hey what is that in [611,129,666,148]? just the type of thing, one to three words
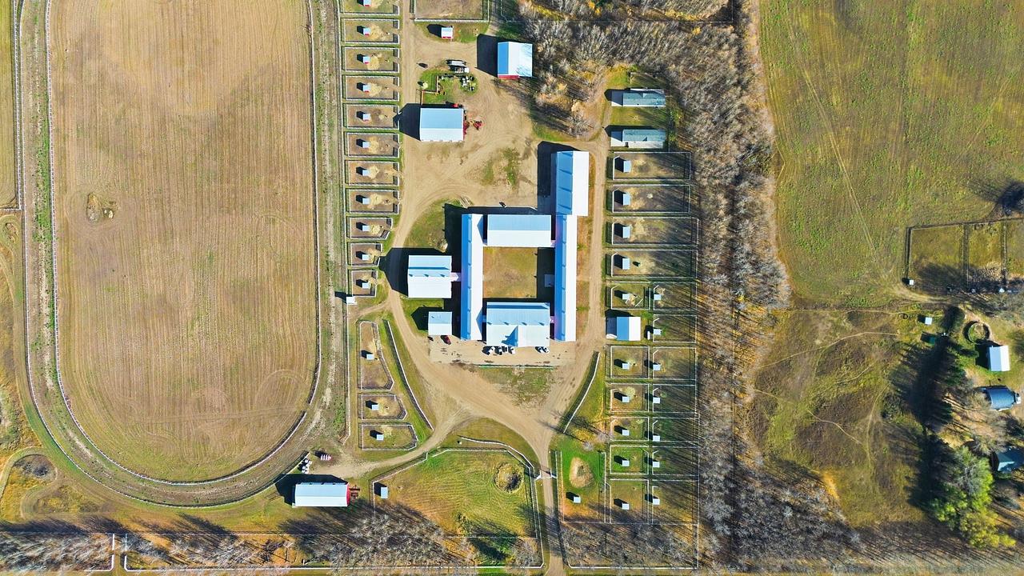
house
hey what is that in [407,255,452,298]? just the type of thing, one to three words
barn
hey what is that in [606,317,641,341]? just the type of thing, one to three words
shed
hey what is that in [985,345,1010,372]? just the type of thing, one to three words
building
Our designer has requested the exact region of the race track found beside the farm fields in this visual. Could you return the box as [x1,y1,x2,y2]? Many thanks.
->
[21,0,349,509]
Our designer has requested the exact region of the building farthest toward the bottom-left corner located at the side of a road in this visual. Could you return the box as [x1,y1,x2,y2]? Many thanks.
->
[293,482,350,507]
